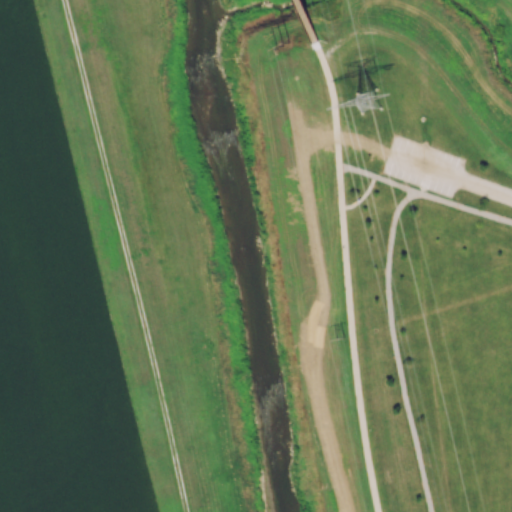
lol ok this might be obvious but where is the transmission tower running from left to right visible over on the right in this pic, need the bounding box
[325,88,390,114]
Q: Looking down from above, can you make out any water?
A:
Yes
